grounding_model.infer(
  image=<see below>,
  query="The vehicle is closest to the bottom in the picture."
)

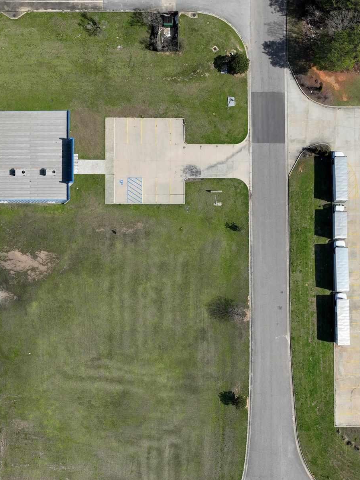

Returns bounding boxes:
[330,293,349,345]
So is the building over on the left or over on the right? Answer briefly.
left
